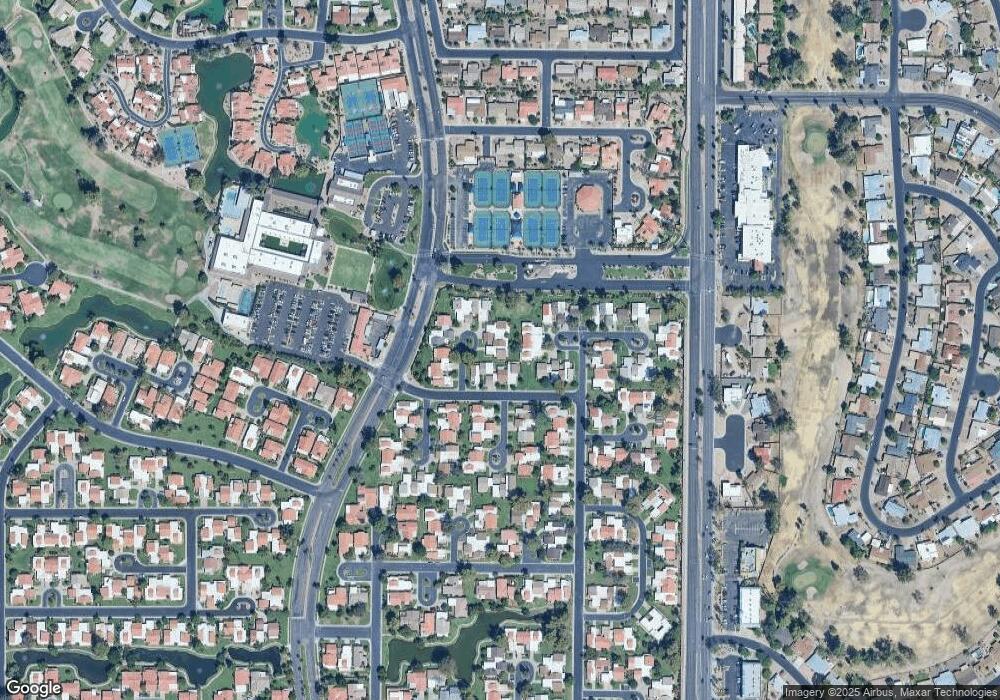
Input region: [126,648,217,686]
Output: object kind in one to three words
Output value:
pond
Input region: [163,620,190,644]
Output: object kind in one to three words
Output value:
house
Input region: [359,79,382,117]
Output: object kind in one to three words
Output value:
tennis court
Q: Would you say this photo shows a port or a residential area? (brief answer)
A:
residential area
